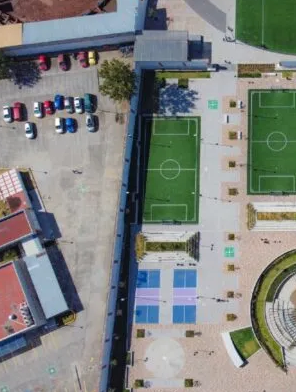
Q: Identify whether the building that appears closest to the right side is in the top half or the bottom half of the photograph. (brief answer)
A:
top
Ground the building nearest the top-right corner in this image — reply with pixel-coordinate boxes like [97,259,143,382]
[134,31,190,63]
